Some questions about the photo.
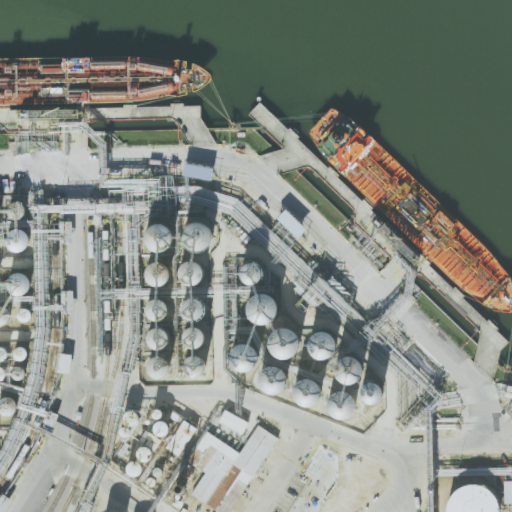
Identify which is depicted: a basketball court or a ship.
ship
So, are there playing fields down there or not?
No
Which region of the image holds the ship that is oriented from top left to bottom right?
right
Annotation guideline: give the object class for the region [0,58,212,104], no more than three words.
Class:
ship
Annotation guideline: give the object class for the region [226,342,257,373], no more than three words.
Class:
storage tank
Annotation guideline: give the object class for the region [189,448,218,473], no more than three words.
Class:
building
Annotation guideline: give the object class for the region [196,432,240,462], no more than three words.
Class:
building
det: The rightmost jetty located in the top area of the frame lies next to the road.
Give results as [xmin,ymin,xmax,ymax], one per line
[250,103,383,223]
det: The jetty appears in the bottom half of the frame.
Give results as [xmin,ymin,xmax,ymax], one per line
[413,254,508,378]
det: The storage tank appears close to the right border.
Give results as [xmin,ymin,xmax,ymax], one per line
[443,484,499,512]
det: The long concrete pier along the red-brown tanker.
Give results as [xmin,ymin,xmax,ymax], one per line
[0,103,215,145]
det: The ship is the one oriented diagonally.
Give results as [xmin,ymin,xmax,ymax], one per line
[310,108,512,312]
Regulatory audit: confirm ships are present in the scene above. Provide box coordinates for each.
[0,58,212,104]
[310,108,512,312]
